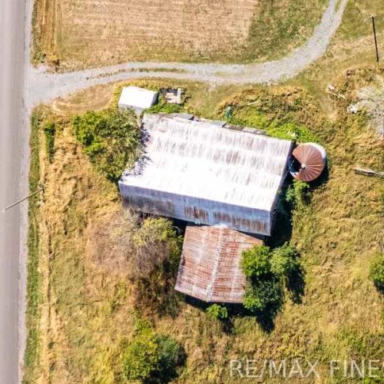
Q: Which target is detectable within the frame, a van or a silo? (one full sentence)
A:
It is a silo that can be seen here.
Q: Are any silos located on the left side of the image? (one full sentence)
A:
No, I see no silo on the left side of the image.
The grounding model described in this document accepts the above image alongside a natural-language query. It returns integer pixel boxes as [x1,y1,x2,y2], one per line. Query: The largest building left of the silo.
[118,109,293,235]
